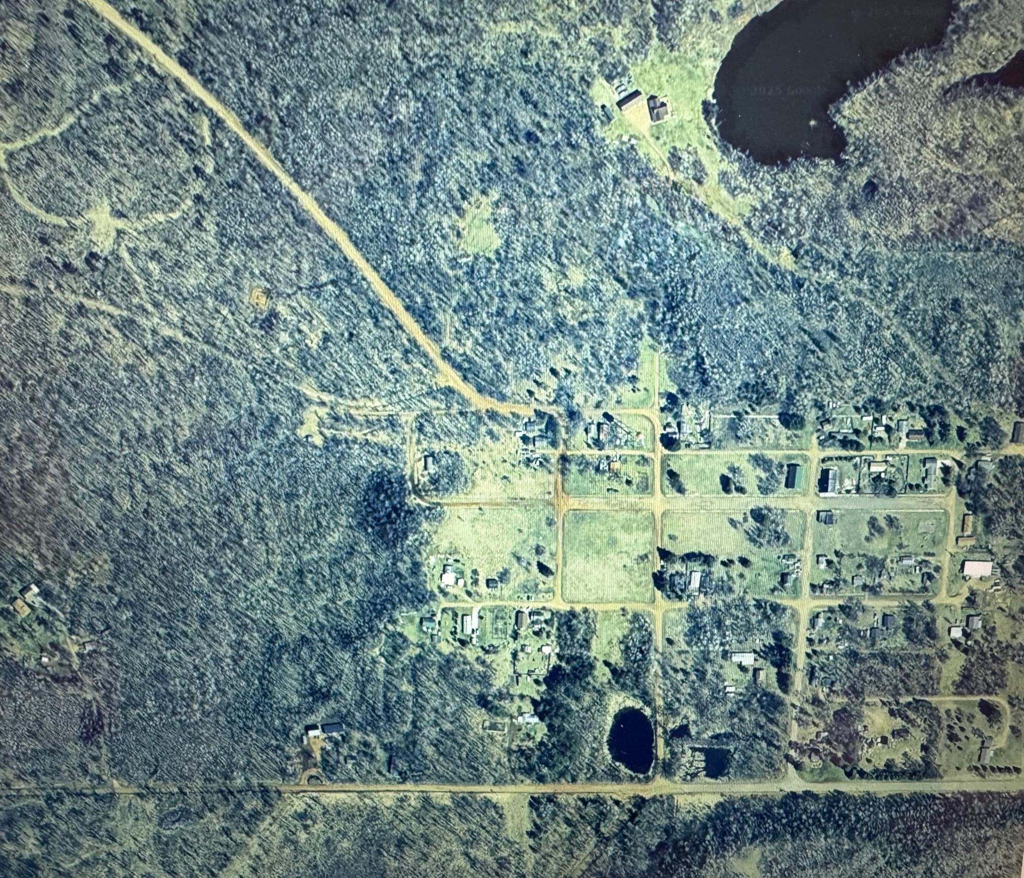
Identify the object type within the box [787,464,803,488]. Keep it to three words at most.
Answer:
barn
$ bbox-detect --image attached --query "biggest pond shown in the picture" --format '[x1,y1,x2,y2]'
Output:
[607,706,655,773]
